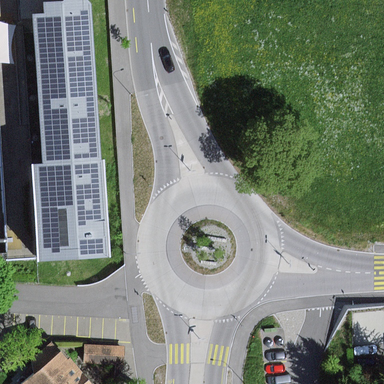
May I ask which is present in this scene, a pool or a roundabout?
roundabout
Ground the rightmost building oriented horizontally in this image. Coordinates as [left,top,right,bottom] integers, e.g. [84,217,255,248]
[82,344,124,364]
